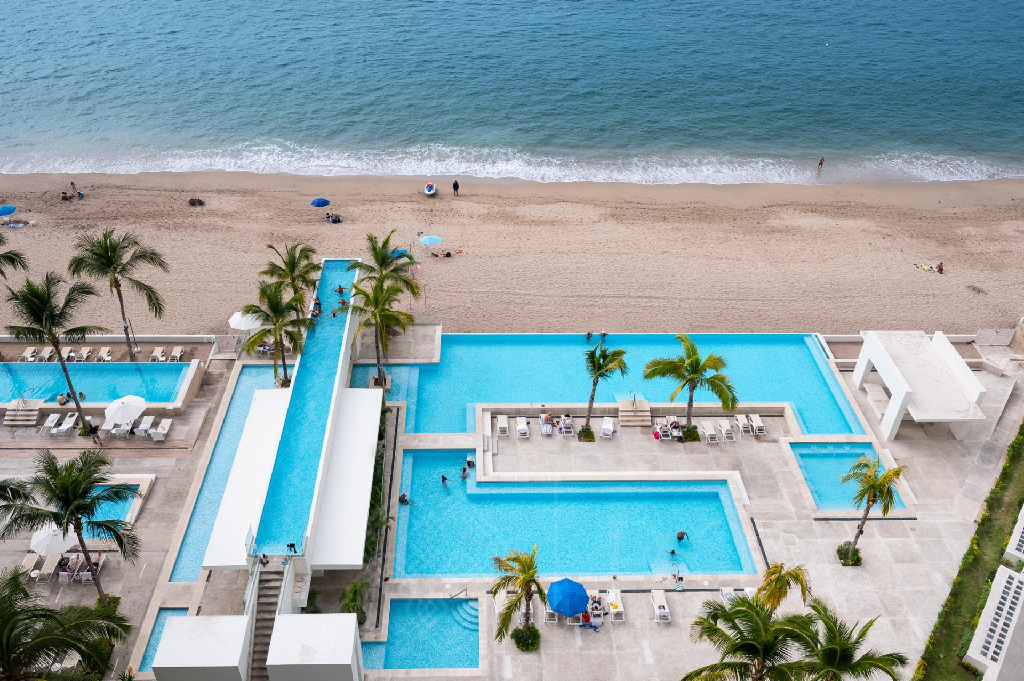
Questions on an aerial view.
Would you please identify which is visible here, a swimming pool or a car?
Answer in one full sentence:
Looking from above, you can make out a swimming pool.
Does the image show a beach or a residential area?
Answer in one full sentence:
This looks like a beach.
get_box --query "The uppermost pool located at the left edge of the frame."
[0,359,203,415]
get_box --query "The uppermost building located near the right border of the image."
[853,331,987,440]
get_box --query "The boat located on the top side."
[424,181,436,197]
